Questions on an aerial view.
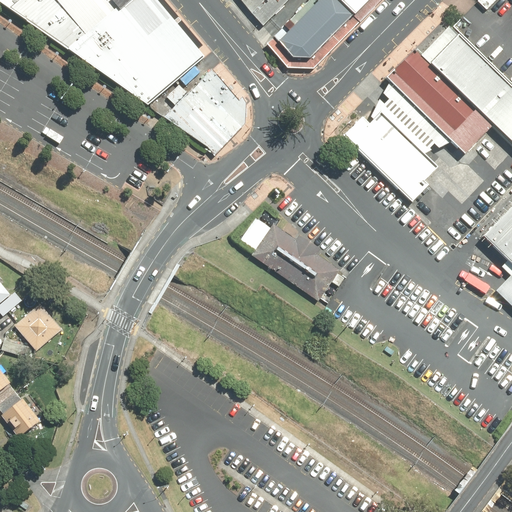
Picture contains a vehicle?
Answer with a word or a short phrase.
Yes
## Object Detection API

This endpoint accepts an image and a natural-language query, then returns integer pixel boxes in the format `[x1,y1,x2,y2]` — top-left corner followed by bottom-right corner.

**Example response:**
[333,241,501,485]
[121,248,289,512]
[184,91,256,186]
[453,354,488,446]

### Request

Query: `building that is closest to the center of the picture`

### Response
[241,218,341,305]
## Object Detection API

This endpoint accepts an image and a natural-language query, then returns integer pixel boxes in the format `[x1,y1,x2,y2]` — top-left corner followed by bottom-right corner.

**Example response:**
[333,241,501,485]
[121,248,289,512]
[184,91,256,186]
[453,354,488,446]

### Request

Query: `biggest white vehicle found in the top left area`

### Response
[42,128,64,145]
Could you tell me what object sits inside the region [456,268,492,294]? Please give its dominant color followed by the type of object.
pink truck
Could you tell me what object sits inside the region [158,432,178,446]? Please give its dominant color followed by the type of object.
white vehicle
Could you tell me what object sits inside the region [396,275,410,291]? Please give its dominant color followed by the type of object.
gray vehicle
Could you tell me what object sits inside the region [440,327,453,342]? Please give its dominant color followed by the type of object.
white vehicle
